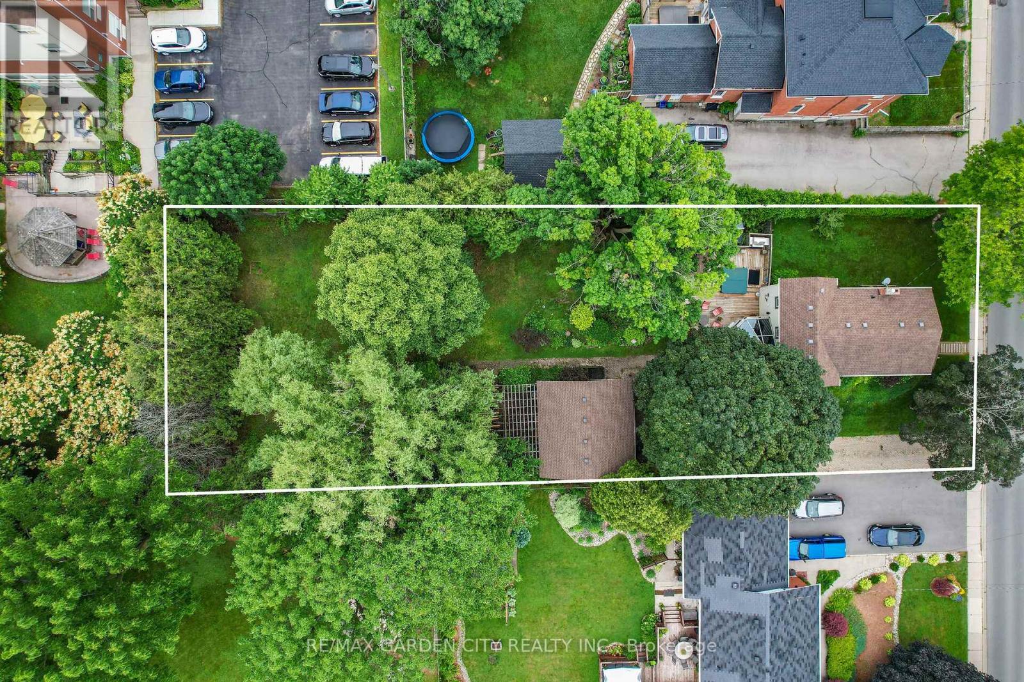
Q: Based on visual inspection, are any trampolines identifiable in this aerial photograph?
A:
Yes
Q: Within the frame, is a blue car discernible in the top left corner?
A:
Yes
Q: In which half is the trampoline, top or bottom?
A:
top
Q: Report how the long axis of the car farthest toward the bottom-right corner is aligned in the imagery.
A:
from side to side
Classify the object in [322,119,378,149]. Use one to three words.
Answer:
car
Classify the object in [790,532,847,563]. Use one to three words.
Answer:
truck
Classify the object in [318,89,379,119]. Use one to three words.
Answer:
car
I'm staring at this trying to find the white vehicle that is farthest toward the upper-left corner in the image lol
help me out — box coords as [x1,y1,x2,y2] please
[150,27,211,59]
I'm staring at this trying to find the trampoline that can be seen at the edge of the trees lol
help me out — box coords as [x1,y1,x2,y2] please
[422,110,476,164]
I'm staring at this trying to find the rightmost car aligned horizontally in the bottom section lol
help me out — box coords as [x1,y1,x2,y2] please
[862,521,926,552]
